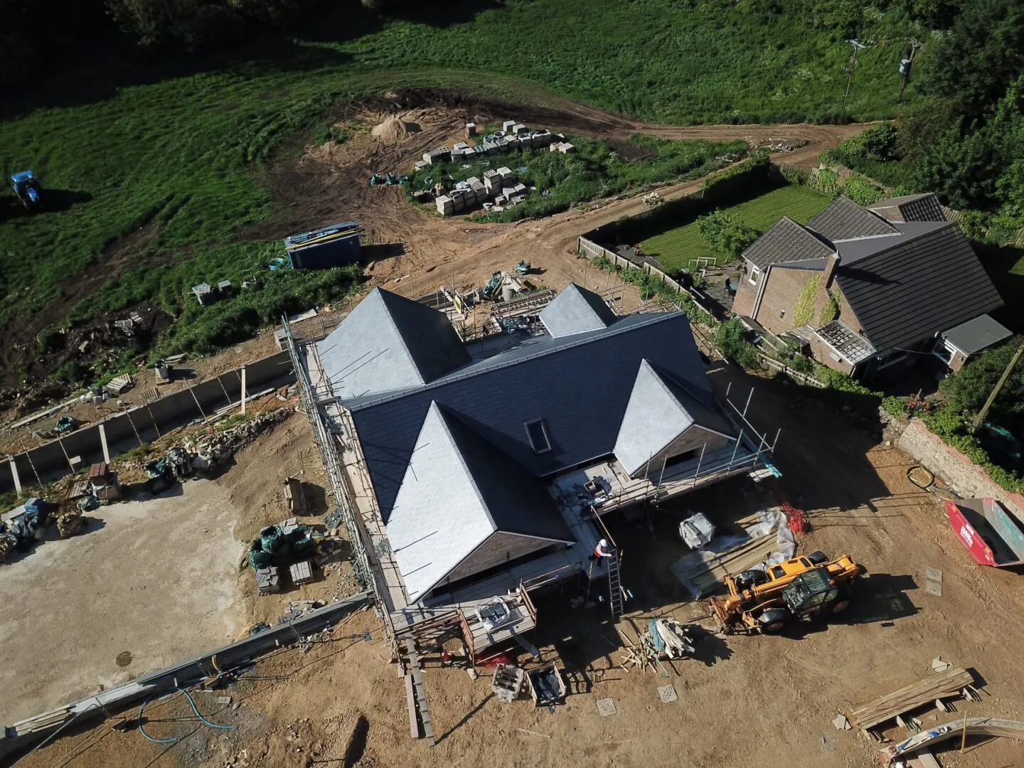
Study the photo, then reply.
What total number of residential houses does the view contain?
2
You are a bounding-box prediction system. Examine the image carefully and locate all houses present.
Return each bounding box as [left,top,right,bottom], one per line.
[317,281,739,626]
[737,193,1014,411]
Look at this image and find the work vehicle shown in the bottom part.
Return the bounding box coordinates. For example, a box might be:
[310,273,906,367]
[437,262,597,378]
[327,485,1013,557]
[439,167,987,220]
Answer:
[694,556,866,641]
